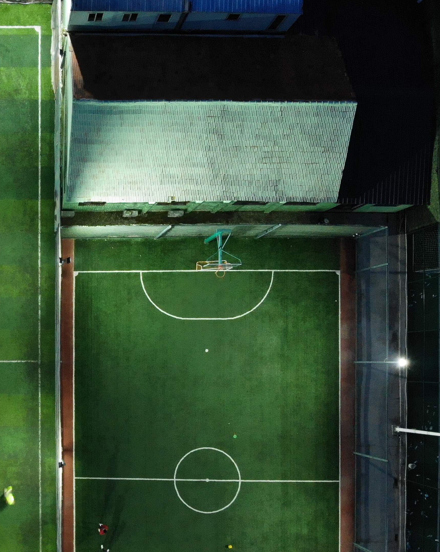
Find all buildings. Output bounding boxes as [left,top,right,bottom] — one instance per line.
[65,34,358,216]
[68,0,189,33]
